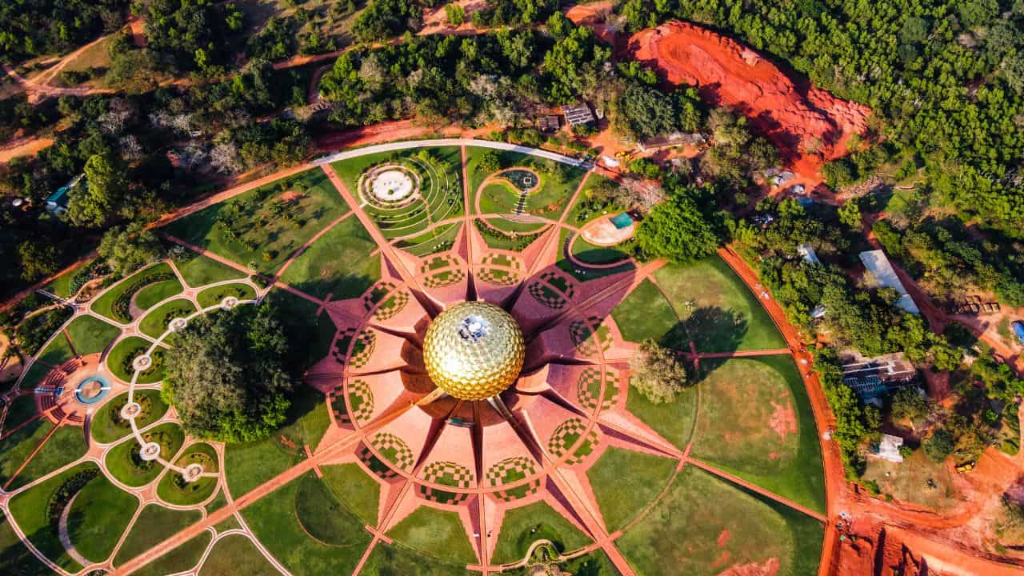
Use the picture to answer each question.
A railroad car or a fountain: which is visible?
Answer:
fountain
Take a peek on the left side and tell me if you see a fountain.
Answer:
Yes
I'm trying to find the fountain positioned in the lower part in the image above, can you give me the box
[74,374,111,405]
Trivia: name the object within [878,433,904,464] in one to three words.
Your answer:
house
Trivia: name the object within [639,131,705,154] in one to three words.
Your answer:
house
